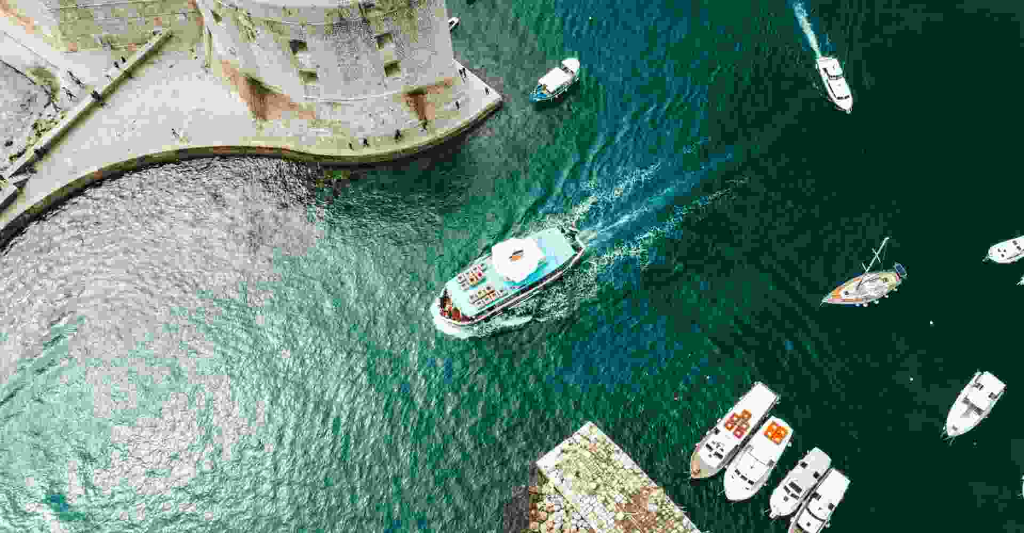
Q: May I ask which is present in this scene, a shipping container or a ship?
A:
ship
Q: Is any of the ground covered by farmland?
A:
No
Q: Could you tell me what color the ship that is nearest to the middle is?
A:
white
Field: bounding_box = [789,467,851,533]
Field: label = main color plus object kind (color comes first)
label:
white boat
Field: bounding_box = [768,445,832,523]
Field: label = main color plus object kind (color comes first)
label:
white boat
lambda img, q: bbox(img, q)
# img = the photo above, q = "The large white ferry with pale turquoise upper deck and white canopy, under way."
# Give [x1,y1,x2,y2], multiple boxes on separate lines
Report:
[436,219,594,329]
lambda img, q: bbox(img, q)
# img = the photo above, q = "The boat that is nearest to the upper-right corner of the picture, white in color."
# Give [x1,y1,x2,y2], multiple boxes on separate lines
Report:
[821,54,853,114]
